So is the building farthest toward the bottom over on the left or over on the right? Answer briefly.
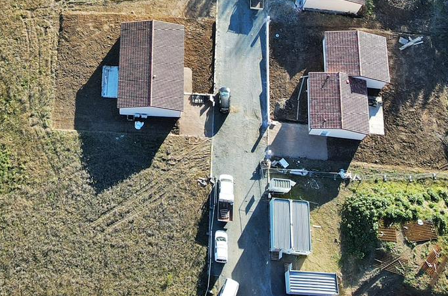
right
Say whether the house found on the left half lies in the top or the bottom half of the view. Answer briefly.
top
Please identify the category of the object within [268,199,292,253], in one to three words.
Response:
building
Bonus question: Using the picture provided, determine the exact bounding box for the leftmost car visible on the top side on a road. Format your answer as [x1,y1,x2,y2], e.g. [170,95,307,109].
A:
[218,87,231,114]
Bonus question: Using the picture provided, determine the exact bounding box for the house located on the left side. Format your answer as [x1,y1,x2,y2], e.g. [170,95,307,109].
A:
[116,20,185,115]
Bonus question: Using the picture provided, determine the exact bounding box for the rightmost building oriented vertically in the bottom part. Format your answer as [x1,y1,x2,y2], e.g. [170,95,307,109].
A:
[290,200,311,253]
